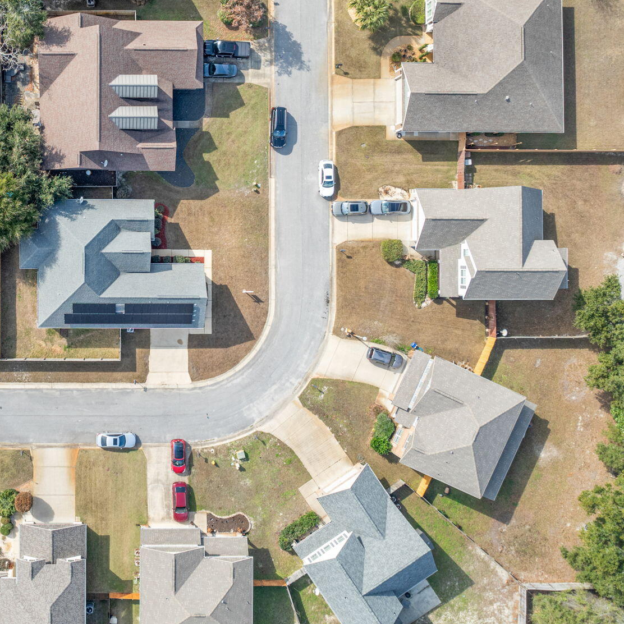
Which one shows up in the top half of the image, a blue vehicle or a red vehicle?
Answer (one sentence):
There is a blue vehicle in the top half of the image.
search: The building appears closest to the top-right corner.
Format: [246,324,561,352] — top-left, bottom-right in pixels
[396,0,565,134]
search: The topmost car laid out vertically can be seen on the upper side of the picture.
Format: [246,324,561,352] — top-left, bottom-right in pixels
[268,107,288,149]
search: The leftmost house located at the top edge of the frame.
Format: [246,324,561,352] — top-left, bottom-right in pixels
[37,12,203,172]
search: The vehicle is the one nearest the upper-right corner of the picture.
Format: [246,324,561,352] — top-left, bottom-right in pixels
[368,199,411,217]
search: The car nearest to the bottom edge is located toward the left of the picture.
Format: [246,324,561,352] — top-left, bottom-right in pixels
[171,480,190,521]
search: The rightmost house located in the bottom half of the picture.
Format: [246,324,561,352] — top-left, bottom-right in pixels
[387,349,538,501]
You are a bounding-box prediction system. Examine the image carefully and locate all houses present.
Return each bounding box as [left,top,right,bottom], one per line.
[293,462,438,624]
[37,12,203,172]
[409,185,568,301]
[19,199,208,329]
[0,516,86,624]
[396,0,565,134]
[387,349,538,501]
[140,523,254,624]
